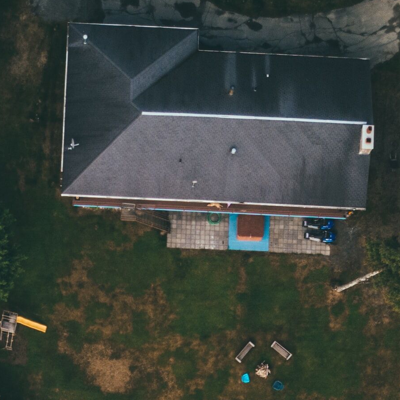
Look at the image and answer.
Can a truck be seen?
No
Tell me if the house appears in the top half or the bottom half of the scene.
top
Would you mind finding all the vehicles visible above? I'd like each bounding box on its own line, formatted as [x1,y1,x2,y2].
[301,218,335,232]
[304,230,337,245]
